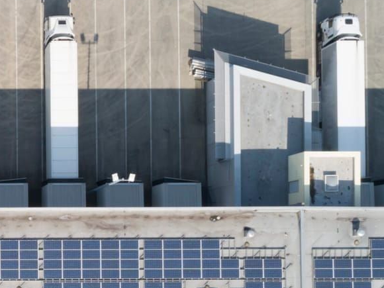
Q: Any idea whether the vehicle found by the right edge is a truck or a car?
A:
truck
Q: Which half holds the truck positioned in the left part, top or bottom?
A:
top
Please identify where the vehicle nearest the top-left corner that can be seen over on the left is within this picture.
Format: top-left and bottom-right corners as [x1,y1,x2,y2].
[42,17,78,182]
